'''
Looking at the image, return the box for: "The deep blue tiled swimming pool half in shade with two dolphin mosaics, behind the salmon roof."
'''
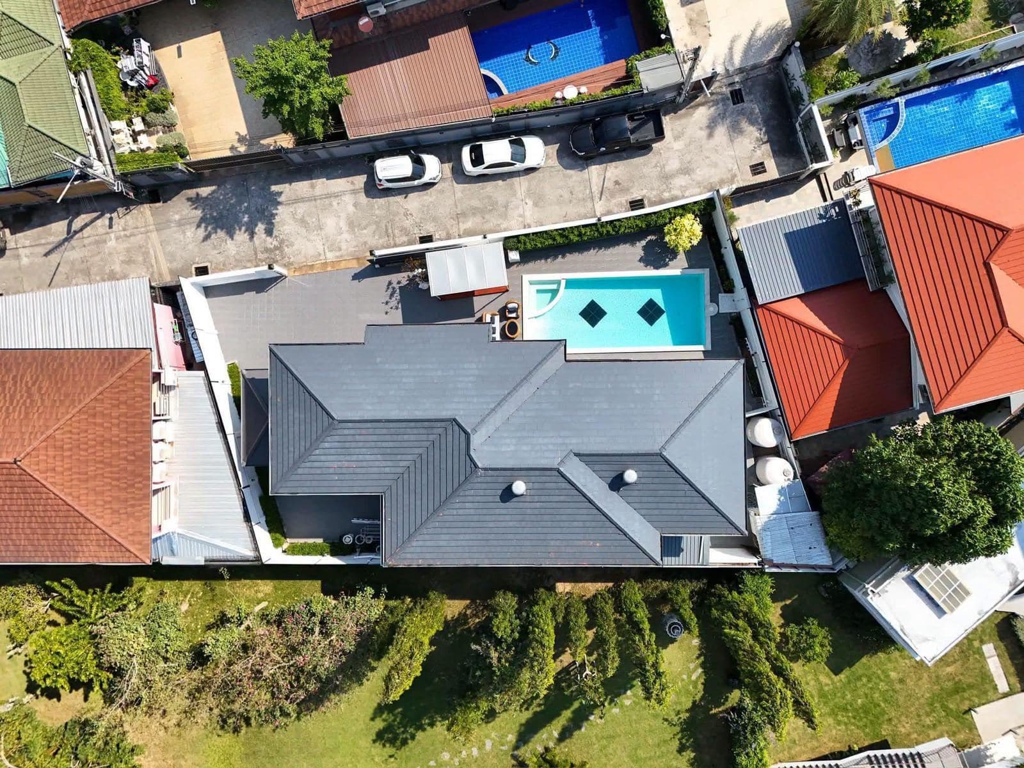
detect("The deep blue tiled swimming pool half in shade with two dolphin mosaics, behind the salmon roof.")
[473,0,647,102]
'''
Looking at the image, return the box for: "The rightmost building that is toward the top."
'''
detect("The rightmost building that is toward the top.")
[836,135,1024,414]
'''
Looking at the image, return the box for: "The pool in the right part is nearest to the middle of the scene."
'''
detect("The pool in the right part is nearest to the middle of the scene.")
[523,268,711,353]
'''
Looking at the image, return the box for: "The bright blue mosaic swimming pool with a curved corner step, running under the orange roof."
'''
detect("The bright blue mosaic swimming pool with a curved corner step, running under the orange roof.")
[857,55,1024,175]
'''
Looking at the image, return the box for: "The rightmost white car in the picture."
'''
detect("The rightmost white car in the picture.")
[461,134,544,179]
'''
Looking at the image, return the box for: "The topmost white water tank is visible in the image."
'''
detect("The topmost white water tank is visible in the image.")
[747,416,774,447]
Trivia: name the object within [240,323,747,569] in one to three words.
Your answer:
house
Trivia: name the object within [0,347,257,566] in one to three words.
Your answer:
house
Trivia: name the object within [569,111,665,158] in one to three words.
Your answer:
truck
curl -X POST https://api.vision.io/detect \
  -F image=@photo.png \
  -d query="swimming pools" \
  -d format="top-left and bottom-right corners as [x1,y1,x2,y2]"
[523,268,711,353]
[857,55,1024,175]
[473,0,647,102]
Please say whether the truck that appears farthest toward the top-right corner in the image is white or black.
black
